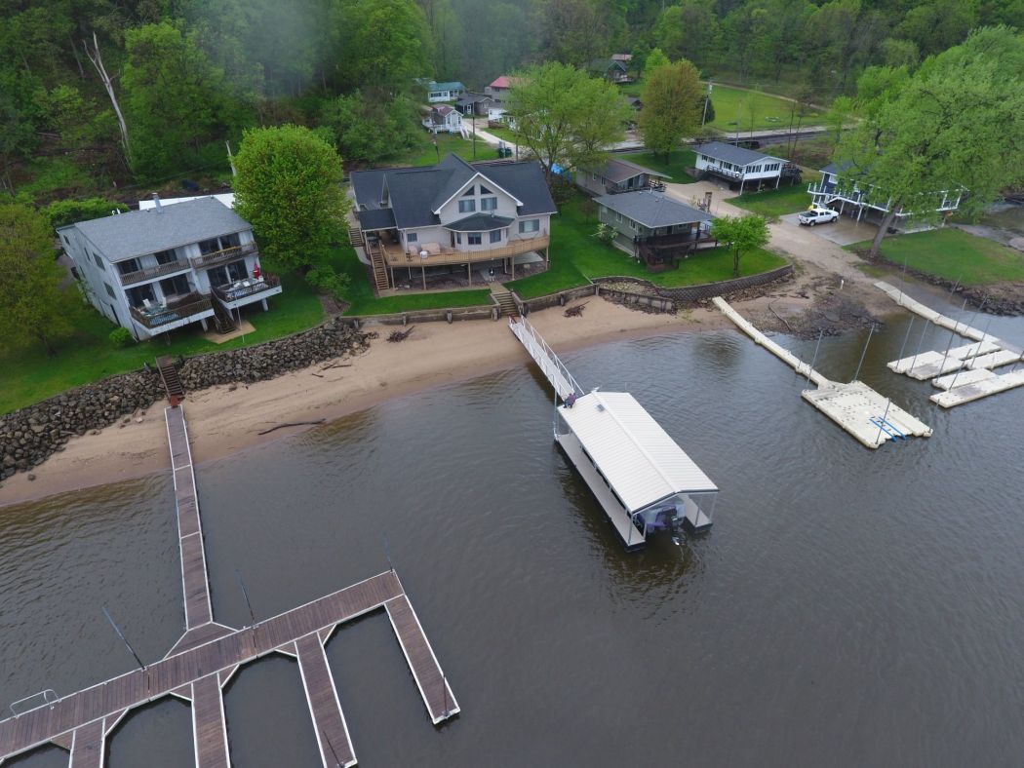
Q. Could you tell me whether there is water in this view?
Yes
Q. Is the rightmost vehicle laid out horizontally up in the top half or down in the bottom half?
top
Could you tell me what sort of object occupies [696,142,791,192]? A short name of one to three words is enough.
house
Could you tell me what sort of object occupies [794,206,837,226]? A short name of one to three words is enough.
vehicle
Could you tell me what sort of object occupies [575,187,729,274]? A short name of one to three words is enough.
house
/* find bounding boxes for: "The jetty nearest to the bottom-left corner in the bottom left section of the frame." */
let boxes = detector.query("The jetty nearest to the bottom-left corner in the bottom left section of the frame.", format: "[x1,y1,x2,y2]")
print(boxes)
[0,405,459,768]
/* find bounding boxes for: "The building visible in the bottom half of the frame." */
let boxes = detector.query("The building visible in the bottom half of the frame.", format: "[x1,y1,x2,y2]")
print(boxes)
[554,382,722,552]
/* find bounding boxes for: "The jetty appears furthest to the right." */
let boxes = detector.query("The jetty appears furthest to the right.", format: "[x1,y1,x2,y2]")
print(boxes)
[877,285,1024,366]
